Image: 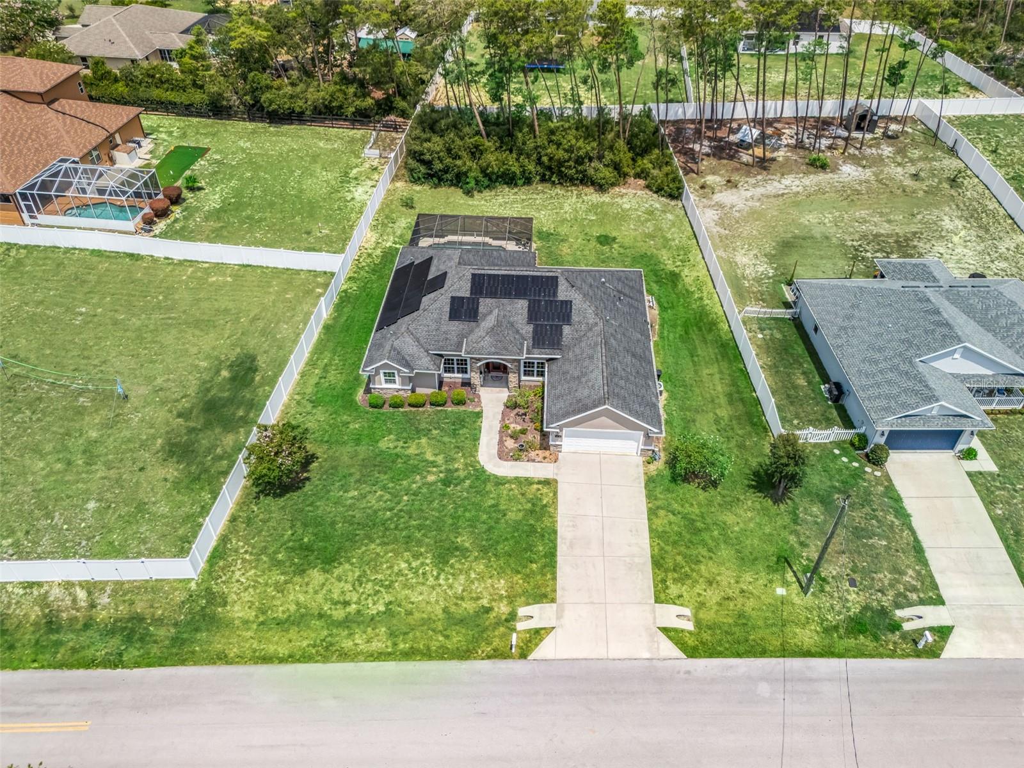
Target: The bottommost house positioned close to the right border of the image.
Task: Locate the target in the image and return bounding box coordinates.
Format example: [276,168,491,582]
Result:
[795,257,1024,459]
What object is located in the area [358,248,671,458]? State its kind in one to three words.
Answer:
house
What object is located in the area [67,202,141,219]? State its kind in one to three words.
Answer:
swimming pool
